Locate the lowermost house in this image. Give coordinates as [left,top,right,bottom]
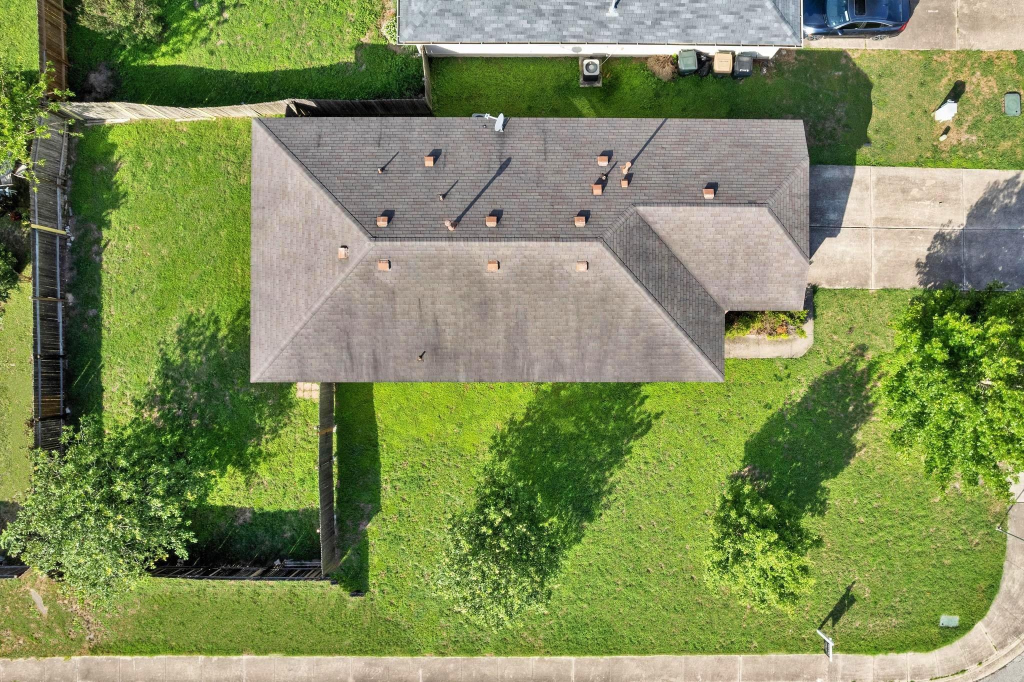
[250,118,810,383]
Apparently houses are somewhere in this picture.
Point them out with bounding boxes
[250,118,810,383]
[397,0,801,56]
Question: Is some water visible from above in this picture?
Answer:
No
